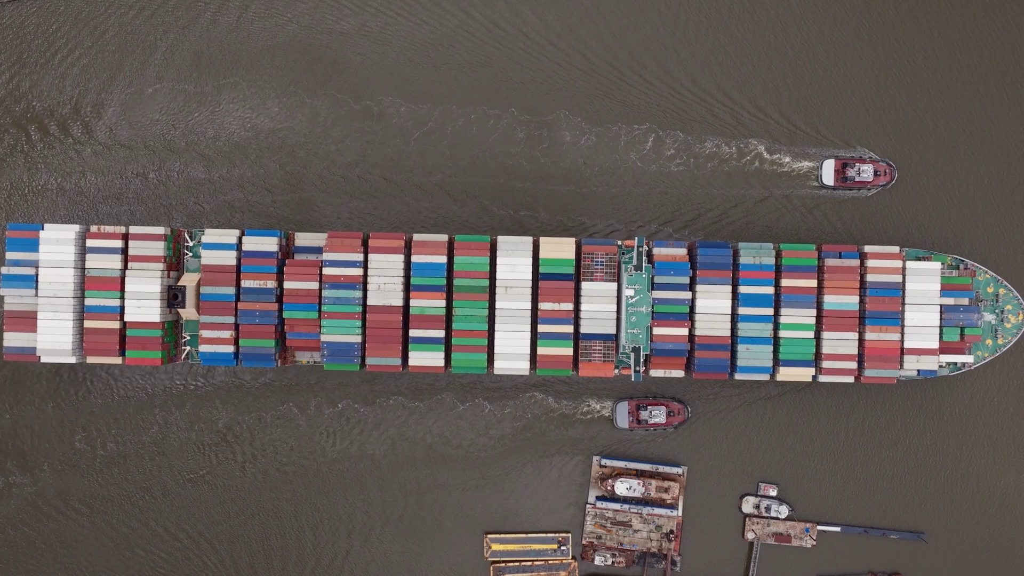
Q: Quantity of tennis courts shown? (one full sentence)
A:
The photo contains no tennis courts.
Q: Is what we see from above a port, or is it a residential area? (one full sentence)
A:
This looks like a port.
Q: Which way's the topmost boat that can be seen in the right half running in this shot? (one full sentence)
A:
The topmost boat that can be seen in the right half is oriented from side to side.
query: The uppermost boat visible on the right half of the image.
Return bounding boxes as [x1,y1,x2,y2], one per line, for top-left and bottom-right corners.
[817,155,898,191]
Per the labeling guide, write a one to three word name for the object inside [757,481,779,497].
boat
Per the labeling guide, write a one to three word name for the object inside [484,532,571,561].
ship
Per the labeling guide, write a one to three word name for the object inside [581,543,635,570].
boat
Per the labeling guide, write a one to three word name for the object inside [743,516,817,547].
ship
